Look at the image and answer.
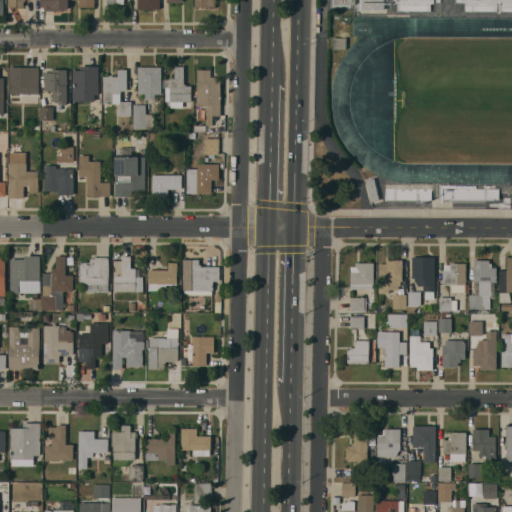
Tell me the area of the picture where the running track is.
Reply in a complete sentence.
The running track is located in the top right region of the scene.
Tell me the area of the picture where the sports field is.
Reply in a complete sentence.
The sports field appears toward the top right of the photo.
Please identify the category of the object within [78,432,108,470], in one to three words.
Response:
house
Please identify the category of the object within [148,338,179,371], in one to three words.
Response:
house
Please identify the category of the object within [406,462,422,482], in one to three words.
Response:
building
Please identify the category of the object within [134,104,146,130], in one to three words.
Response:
building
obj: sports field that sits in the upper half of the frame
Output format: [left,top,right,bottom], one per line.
[394,36,512,164]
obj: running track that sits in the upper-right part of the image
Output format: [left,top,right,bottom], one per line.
[332,18,512,183]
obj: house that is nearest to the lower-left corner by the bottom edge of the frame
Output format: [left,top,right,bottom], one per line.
[12,484,42,506]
